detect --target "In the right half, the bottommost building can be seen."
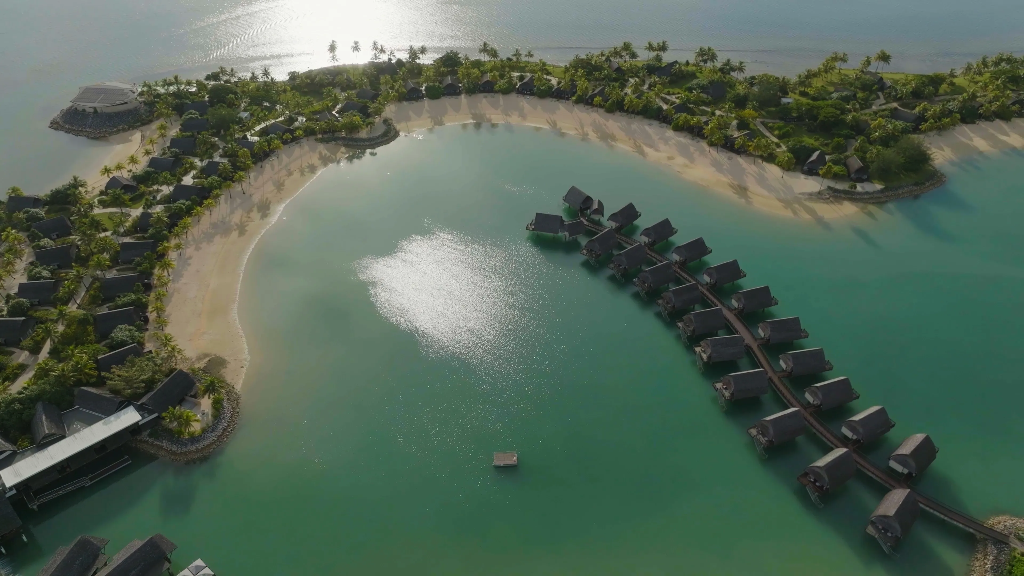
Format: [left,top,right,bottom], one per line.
[861,487,921,555]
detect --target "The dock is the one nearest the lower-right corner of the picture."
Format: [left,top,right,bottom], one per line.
[578,211,1013,544]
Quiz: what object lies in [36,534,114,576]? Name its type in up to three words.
building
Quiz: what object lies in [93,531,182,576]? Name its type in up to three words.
building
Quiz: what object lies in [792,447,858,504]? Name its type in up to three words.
house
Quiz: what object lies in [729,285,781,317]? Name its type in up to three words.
house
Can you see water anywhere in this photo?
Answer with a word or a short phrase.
Yes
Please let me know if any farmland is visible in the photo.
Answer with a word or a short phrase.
No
